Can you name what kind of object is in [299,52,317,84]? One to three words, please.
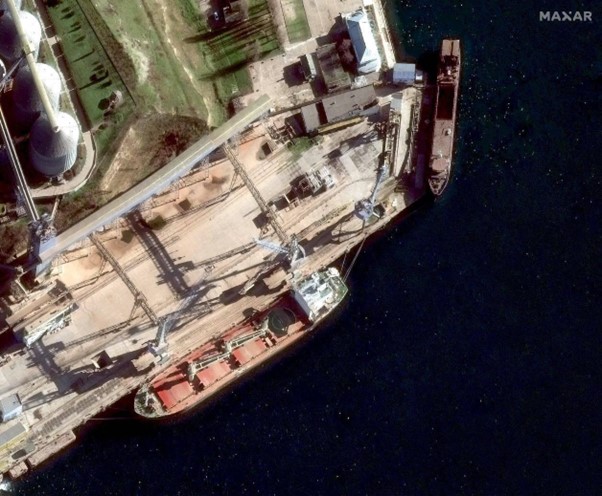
house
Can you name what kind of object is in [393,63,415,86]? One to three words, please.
shed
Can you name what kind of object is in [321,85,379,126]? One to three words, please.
building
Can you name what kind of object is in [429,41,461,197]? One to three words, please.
ship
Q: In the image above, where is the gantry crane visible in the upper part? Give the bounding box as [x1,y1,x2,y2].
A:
[356,159,387,222]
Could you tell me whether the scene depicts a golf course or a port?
port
